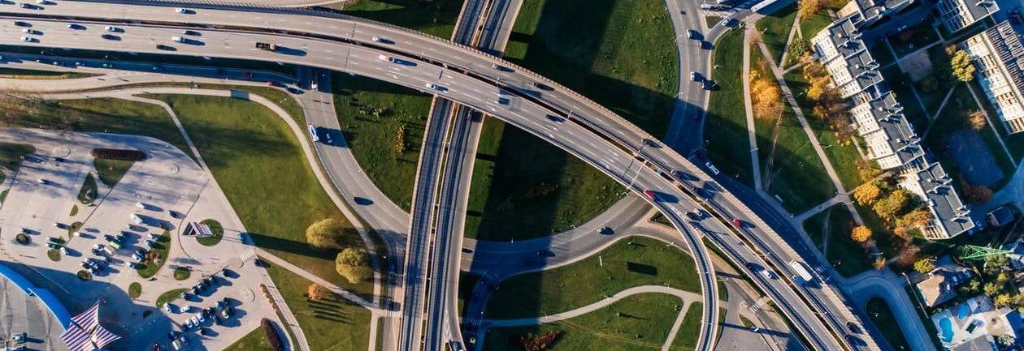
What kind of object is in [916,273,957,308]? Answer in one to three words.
house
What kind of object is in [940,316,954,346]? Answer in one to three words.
swimming pool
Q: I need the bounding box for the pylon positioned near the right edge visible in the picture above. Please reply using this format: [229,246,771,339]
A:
[957,244,1007,260]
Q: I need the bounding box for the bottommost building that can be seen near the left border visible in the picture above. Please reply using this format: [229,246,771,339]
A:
[0,261,87,351]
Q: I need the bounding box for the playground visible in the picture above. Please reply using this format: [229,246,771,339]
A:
[902,48,934,81]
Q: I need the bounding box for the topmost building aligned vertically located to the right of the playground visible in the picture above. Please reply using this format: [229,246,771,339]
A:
[966,13,1024,146]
